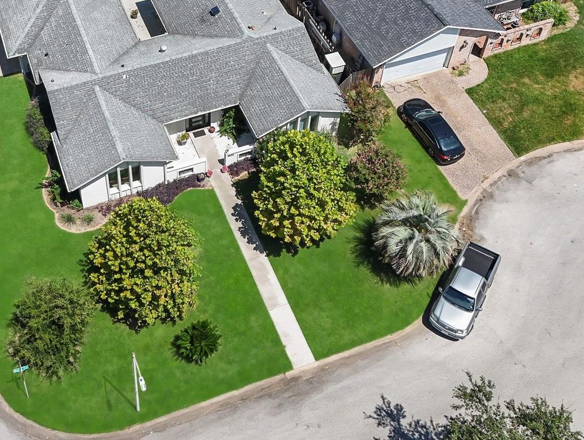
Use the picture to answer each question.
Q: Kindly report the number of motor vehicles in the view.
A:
2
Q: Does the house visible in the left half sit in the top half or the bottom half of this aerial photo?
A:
top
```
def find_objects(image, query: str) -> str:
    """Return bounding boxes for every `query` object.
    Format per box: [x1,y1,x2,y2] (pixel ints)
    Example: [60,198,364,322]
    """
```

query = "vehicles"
[400,100,465,165]
[430,243,498,343]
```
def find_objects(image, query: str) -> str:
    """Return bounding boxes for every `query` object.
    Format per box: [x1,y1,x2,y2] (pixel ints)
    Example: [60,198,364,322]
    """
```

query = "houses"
[308,0,551,86]
[0,0,351,204]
